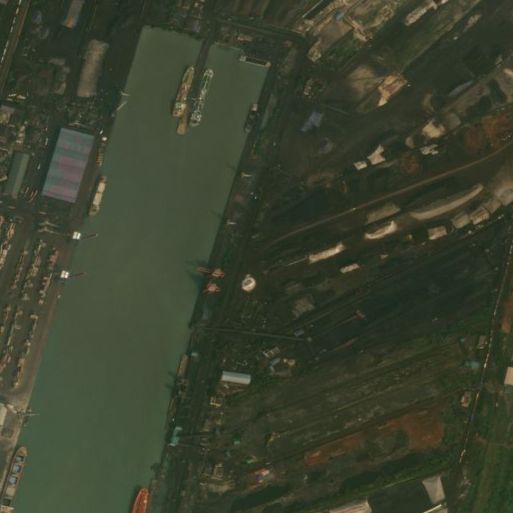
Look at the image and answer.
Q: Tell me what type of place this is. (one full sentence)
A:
The area seen from above is a port.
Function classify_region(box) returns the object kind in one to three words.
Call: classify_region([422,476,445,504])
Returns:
building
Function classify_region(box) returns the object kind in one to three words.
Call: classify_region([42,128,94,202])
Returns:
building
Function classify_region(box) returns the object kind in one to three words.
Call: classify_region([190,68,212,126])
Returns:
ship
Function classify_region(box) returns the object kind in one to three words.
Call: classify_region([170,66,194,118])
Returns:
ship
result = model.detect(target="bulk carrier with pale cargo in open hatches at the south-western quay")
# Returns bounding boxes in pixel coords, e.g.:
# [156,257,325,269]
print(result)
[1,447,27,513]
